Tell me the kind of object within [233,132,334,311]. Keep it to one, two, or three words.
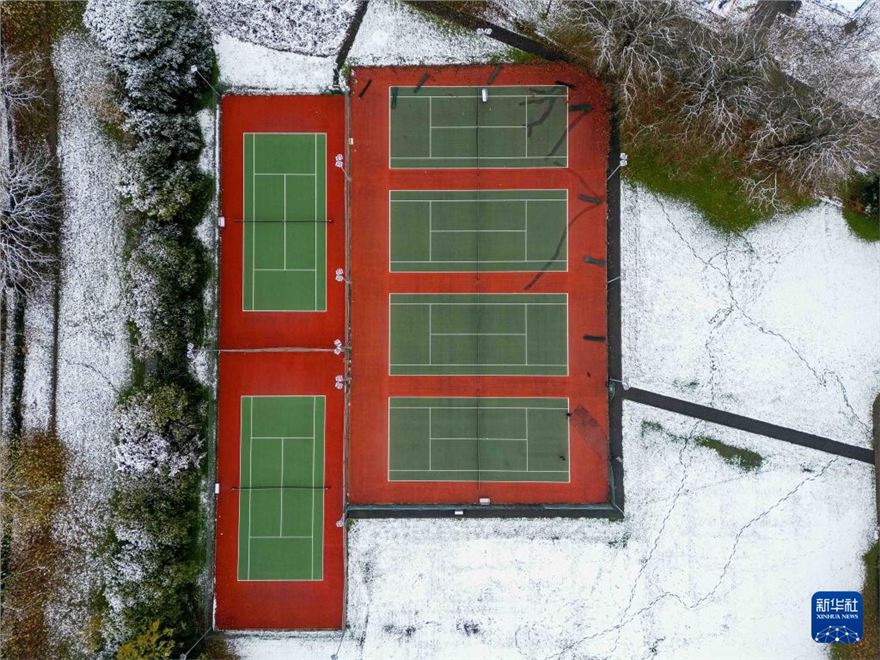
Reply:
tennis court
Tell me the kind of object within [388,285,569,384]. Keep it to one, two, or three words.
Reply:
tennis court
